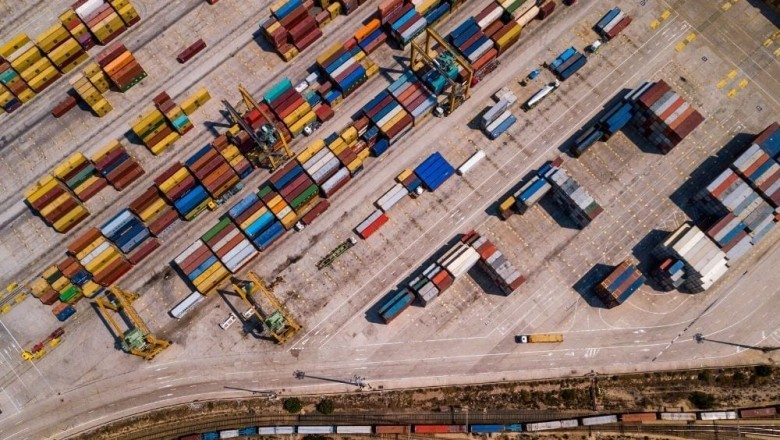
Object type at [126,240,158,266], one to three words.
shipping container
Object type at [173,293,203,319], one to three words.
shipping container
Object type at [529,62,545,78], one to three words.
vehicle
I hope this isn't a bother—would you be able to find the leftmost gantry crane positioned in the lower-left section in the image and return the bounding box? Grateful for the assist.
[88,280,173,362]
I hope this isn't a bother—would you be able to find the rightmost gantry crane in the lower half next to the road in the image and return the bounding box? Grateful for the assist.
[229,265,303,346]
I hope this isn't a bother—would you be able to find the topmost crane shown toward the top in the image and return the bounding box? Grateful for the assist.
[408,24,480,113]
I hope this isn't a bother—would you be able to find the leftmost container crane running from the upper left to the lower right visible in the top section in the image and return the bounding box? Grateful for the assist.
[220,83,296,172]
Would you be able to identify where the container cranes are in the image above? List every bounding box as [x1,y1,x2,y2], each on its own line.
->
[220,83,296,172]
[229,265,303,346]
[408,24,480,113]
[88,280,173,362]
